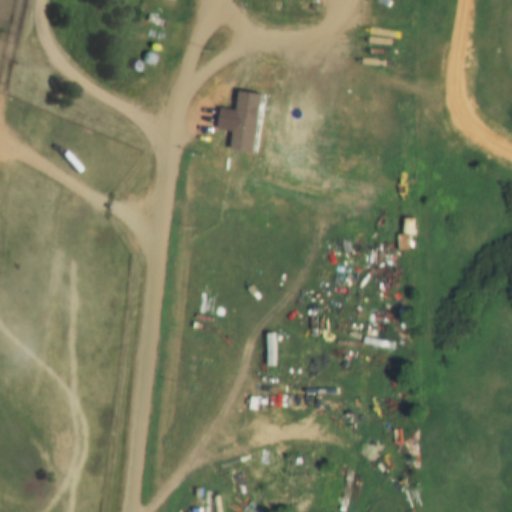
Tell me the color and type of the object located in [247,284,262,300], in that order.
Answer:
white camper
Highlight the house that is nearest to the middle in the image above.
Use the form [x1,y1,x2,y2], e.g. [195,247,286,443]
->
[266,332,278,366]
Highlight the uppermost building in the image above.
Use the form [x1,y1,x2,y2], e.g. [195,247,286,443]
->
[218,92,266,152]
